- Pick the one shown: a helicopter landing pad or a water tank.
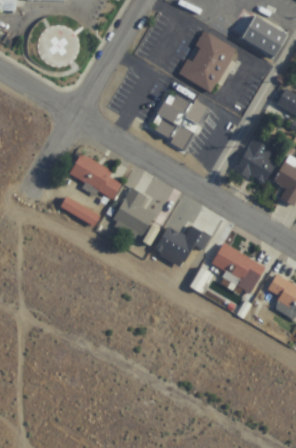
helicopter landing pad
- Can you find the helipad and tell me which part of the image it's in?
top left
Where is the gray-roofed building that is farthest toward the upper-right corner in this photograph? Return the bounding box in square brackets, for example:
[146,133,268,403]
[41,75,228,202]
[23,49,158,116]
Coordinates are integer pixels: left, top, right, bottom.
[244,14,288,58]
